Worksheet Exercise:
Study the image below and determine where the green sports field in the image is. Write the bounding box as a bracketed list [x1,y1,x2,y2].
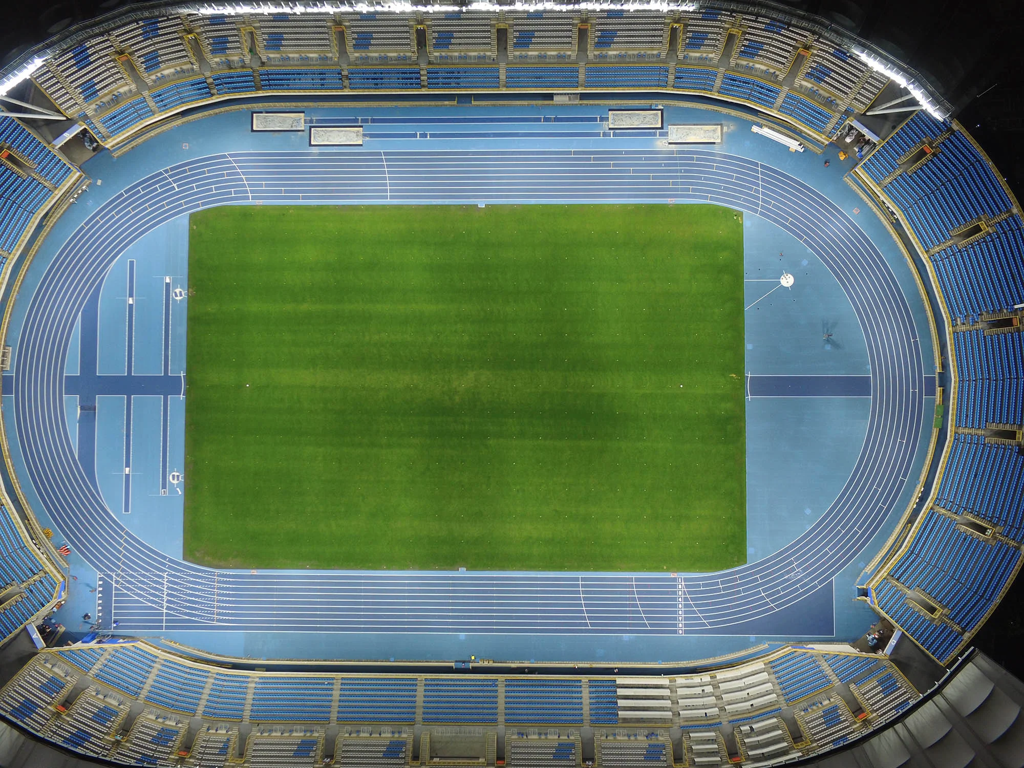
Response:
[183,204,747,572]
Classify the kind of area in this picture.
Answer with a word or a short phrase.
sports ground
